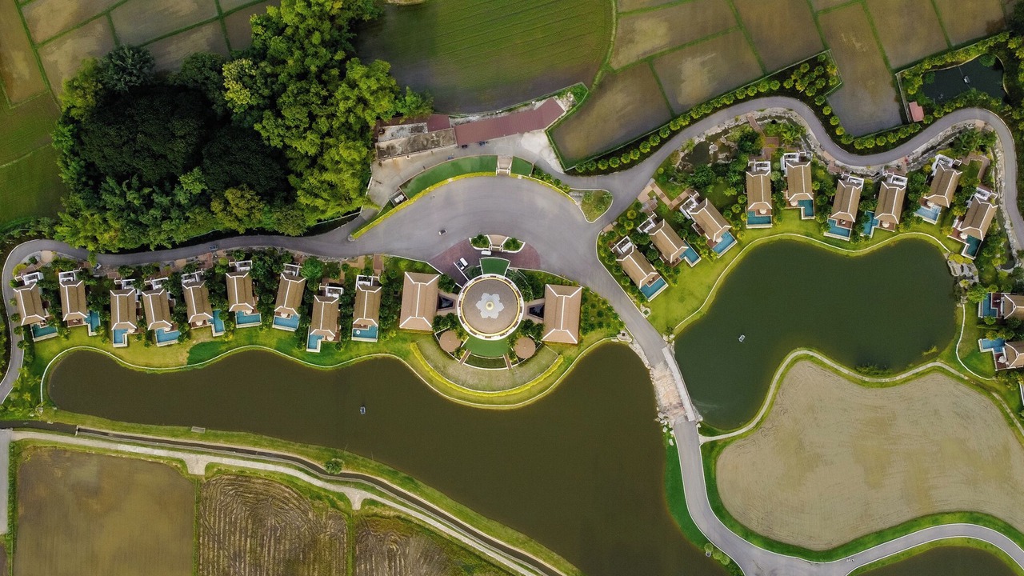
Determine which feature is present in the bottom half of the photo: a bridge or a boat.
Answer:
bridge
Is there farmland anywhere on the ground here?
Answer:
Yes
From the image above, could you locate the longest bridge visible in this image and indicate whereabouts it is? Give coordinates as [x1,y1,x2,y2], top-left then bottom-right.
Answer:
[653,347,699,426]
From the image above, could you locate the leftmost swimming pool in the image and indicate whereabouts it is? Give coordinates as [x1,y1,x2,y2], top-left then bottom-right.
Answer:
[29,322,59,341]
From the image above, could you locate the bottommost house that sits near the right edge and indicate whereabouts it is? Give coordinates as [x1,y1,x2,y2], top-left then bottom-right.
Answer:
[993,340,1024,371]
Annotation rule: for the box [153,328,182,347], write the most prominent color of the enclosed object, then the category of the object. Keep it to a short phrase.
blue swimming pool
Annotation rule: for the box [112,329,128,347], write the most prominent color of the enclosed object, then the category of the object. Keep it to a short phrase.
blue swimming pool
